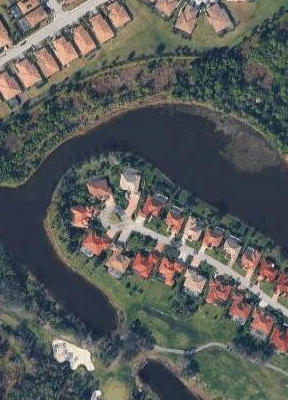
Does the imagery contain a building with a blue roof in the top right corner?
No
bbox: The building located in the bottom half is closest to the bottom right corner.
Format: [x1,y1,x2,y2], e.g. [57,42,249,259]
[269,326,288,354]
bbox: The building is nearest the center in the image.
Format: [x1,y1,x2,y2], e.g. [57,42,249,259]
[140,192,164,216]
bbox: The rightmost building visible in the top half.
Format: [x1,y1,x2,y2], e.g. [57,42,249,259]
[207,6,233,32]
